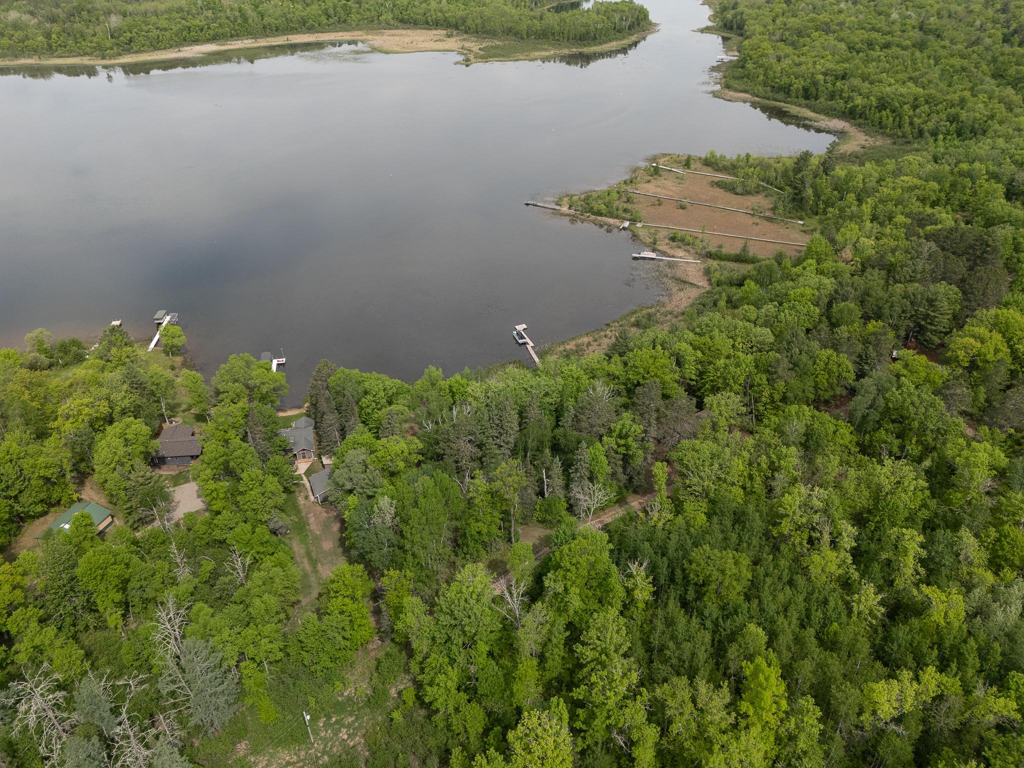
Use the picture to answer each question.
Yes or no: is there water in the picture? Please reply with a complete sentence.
Yes, some water is visible.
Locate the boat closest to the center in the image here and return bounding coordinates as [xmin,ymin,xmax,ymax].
[512,331,527,344]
